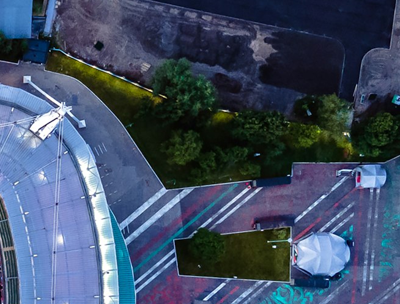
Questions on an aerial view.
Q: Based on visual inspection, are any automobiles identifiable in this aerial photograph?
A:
No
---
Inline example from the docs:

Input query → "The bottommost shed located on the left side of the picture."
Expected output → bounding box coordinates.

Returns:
[21,40,49,67]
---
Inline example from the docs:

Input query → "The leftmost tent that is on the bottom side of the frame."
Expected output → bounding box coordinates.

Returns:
[290,231,353,278]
